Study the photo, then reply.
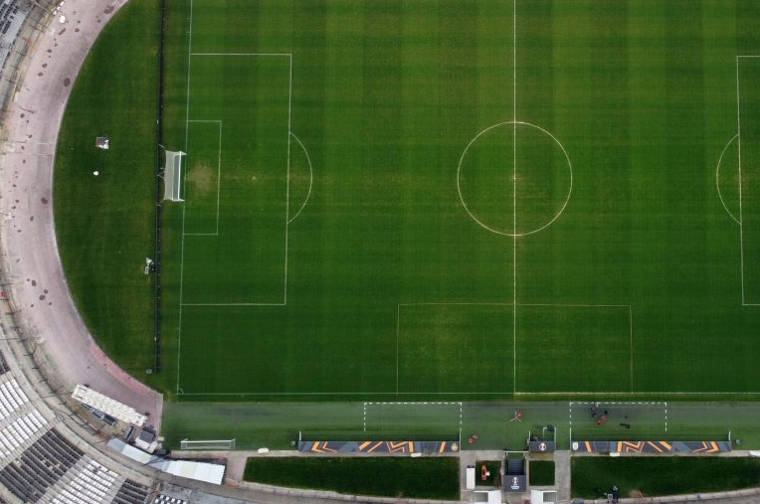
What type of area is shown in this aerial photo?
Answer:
sports ground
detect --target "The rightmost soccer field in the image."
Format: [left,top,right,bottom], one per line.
[166,0,760,402]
